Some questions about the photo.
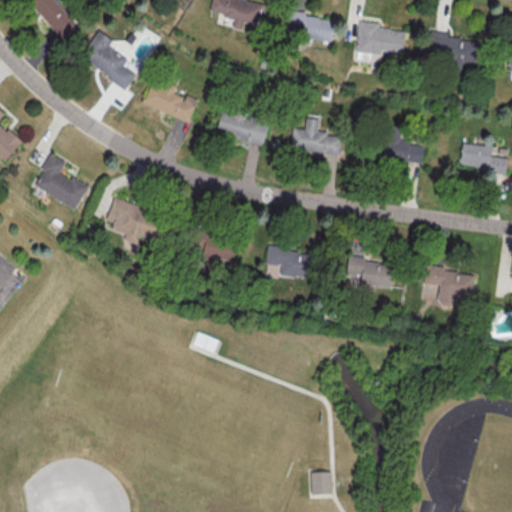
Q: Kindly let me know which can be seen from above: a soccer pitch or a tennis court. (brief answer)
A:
soccer pitch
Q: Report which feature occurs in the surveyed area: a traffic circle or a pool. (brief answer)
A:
pool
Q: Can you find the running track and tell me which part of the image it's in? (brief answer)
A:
bottom right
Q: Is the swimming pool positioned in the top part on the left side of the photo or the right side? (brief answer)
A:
left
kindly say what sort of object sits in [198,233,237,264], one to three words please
house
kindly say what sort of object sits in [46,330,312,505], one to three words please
soccer field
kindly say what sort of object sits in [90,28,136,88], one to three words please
house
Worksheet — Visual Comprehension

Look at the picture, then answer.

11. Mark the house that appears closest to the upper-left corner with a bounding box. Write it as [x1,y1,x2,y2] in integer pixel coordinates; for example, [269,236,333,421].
[32,0,70,33]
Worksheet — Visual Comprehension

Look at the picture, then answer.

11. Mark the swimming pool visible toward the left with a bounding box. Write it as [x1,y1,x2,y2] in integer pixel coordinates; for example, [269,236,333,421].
[111,28,162,76]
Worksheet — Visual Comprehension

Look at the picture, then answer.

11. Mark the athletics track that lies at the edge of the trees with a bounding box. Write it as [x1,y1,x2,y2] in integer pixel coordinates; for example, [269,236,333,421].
[422,400,512,512]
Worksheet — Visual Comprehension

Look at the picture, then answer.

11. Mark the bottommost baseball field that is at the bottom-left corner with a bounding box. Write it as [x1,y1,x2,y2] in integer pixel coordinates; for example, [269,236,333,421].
[25,458,130,512]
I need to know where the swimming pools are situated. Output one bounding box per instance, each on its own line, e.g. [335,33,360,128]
[493,308,512,341]
[111,28,162,76]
